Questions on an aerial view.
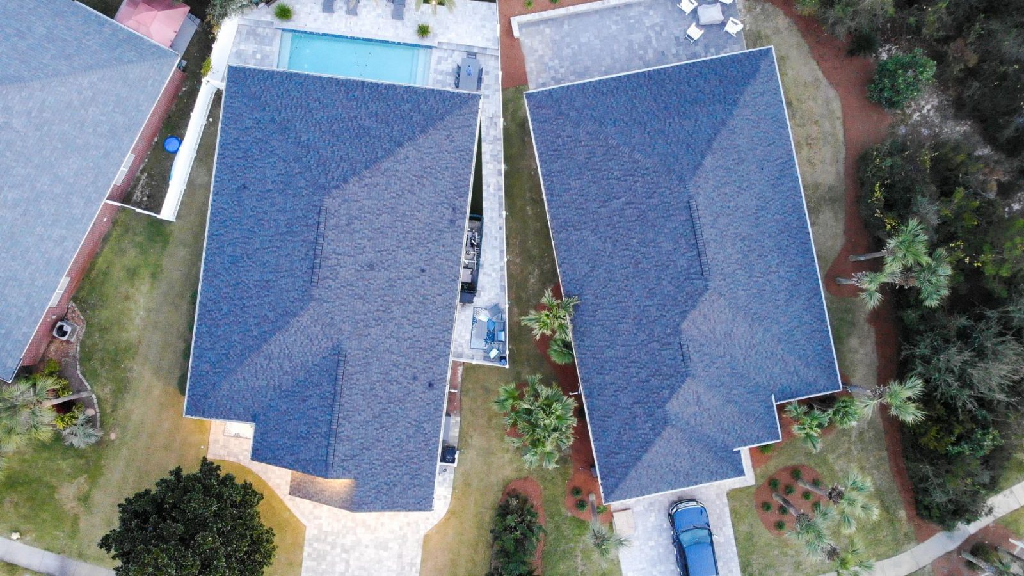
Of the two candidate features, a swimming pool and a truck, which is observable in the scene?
swimming pool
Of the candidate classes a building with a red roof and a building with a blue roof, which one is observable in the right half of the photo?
building with a blue roof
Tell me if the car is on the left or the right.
right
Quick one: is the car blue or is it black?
blue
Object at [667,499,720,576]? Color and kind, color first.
blue car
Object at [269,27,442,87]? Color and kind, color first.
blue swimming pool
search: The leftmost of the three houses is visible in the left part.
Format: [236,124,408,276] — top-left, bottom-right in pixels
[0,0,188,386]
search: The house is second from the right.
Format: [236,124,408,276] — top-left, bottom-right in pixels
[183,62,483,514]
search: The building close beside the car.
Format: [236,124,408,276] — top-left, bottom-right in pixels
[521,42,843,507]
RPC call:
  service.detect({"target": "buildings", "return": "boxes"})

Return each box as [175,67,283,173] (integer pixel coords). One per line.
[0,0,188,386]
[521,42,843,507]
[183,62,483,514]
